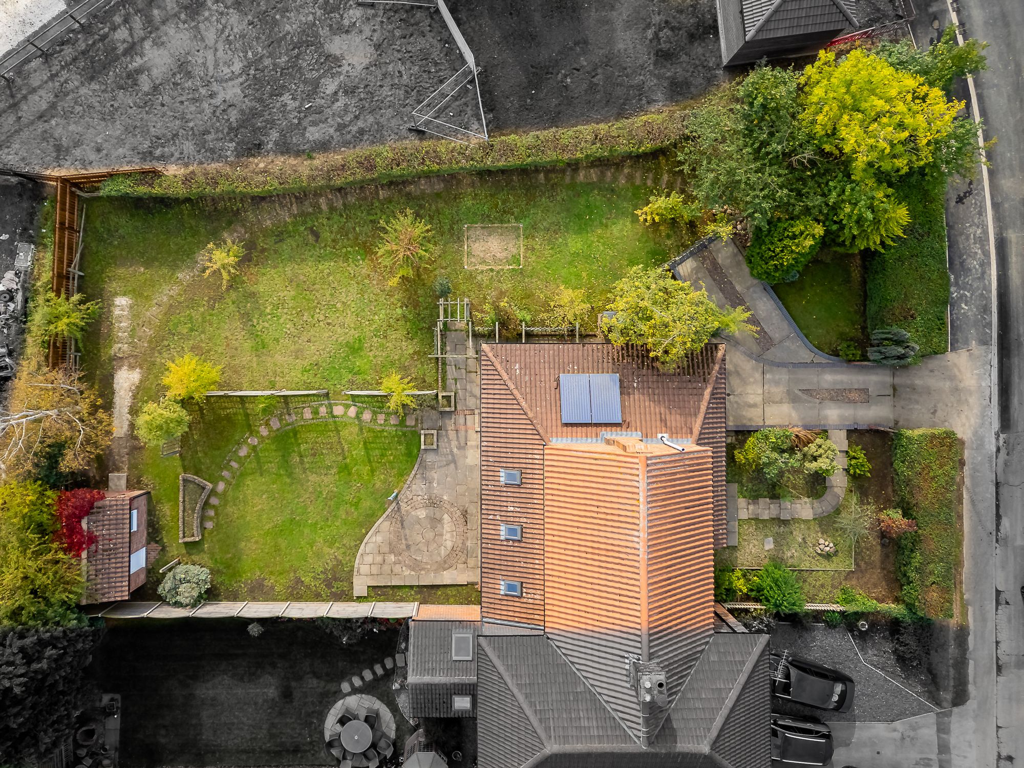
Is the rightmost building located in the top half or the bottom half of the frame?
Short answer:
top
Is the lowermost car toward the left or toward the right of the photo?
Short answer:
right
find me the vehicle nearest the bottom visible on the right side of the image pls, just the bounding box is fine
[765,721,836,768]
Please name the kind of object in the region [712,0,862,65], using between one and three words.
building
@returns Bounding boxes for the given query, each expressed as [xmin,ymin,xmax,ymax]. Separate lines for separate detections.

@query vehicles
[765,721,836,768]
[766,642,860,709]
